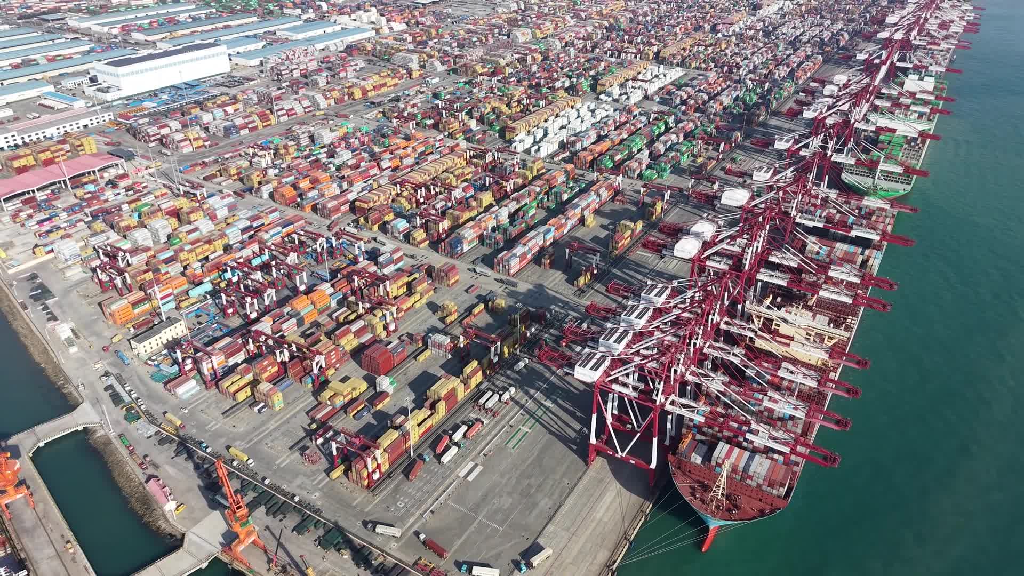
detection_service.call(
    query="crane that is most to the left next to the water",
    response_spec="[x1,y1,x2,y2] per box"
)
[0,443,33,525]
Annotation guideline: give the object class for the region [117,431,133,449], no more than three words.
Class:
vehicle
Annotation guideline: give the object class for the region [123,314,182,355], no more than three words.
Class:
building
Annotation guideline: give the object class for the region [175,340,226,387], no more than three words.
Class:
crane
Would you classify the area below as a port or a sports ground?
port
